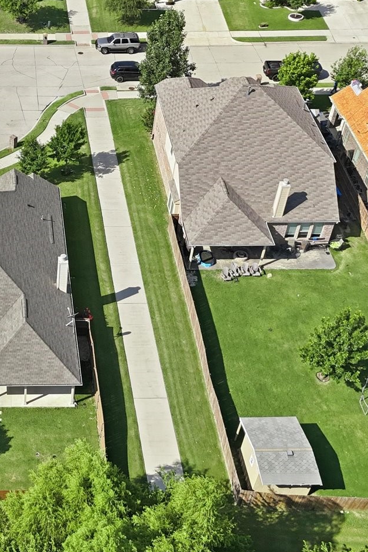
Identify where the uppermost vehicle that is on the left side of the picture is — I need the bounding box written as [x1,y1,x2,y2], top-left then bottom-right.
[95,29,141,53]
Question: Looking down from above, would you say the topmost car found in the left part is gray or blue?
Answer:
gray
